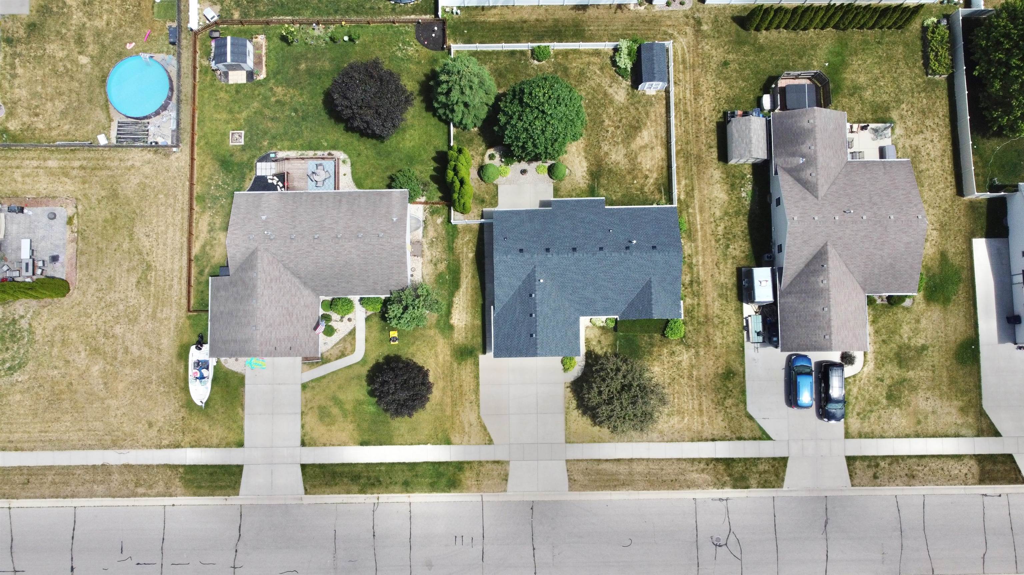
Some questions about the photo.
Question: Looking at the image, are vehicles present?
Yes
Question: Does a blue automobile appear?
Yes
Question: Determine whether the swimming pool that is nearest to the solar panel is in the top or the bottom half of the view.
top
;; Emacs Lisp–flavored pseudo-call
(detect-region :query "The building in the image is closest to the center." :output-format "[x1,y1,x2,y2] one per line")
[491,196,685,359]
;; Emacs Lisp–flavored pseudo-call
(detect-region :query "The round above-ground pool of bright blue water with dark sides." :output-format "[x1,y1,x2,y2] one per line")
[106,55,175,121]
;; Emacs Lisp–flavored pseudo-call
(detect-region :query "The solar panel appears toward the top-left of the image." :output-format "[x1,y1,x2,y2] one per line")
[116,120,149,144]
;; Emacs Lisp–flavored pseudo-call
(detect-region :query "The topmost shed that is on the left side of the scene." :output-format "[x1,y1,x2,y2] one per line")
[209,32,250,69]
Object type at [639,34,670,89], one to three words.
shed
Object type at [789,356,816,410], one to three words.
car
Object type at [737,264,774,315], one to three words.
vehicle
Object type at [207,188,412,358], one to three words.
house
